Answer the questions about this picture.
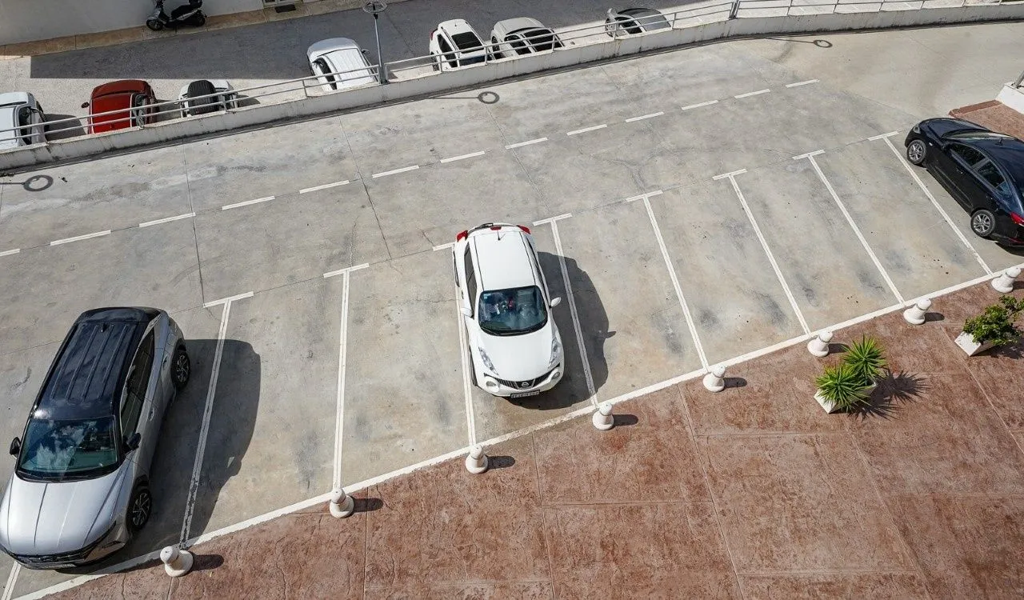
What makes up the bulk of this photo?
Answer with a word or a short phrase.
paved ground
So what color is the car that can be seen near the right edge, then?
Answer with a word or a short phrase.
black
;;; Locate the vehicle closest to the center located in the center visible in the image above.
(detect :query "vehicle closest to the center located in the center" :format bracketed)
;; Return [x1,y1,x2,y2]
[452,227,566,401]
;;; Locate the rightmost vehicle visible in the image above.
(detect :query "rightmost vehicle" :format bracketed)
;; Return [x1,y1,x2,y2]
[908,123,1024,250]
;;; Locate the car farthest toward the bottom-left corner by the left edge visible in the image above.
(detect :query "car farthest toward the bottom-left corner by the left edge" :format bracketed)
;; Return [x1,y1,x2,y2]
[0,309,187,567]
